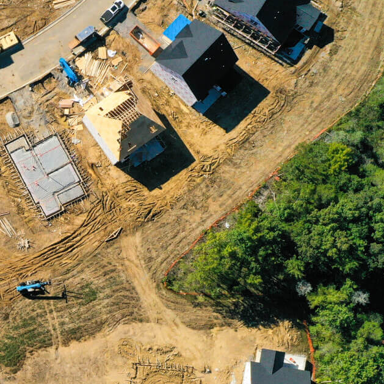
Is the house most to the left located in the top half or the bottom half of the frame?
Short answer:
top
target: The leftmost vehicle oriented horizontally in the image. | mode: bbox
[19,280,64,296]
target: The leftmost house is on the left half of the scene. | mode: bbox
[80,72,169,164]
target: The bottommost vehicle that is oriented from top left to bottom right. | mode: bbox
[60,57,88,95]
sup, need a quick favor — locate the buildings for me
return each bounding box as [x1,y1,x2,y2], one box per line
[80,72,169,164]
[241,346,311,384]
[147,13,238,114]
[208,0,327,59]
